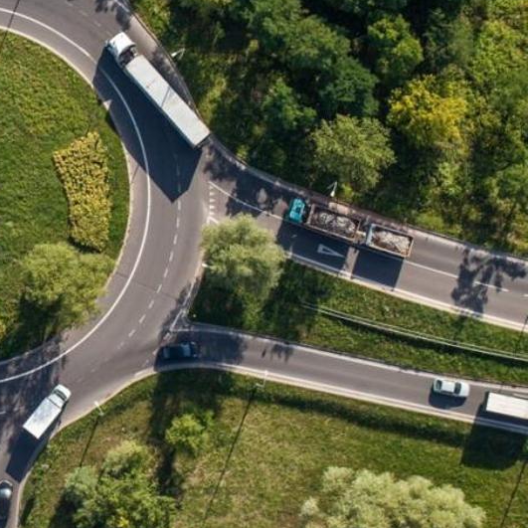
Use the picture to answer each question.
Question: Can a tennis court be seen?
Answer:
No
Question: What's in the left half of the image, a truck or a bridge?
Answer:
truck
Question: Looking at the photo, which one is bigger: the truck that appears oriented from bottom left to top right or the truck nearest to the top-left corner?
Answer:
the truck nearest to the top-left corner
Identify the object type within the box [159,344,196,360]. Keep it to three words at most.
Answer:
car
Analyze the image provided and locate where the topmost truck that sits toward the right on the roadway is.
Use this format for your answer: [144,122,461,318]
[289,197,414,256]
